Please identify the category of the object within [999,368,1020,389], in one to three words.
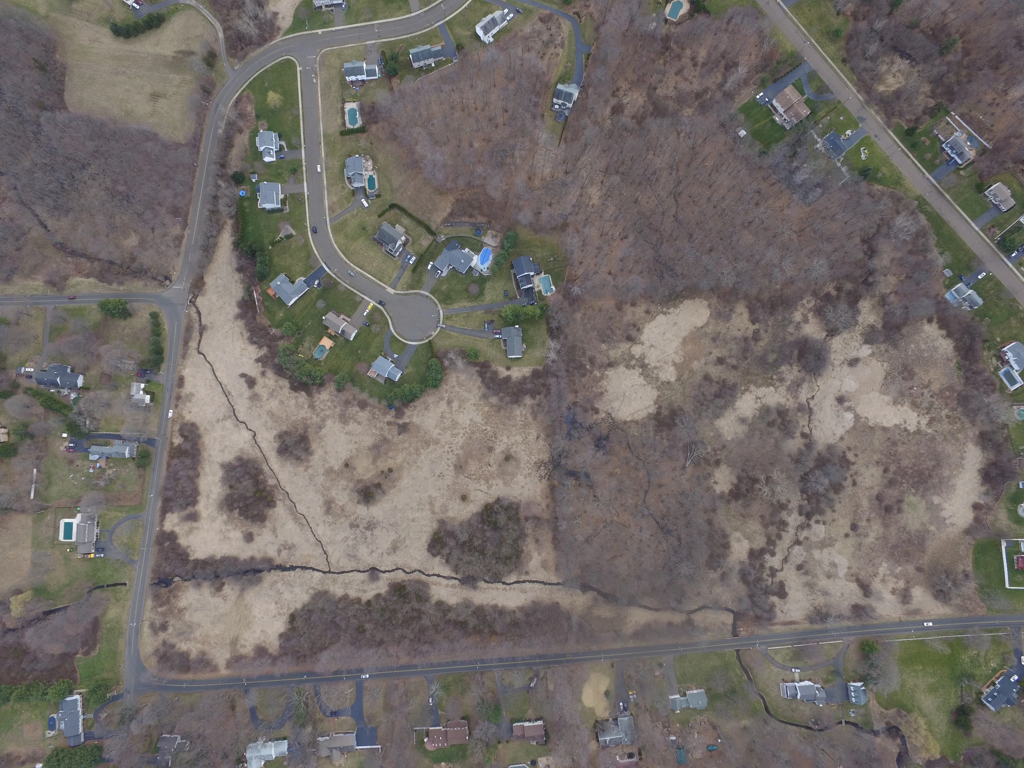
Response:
swimming pool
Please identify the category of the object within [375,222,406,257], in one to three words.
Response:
house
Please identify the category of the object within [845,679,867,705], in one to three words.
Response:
building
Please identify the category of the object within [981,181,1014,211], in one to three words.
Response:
house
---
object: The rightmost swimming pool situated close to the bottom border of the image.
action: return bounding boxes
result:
[616,750,637,762]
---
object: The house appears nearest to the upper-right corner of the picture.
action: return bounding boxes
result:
[938,131,978,166]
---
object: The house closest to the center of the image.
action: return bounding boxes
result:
[502,325,522,356]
